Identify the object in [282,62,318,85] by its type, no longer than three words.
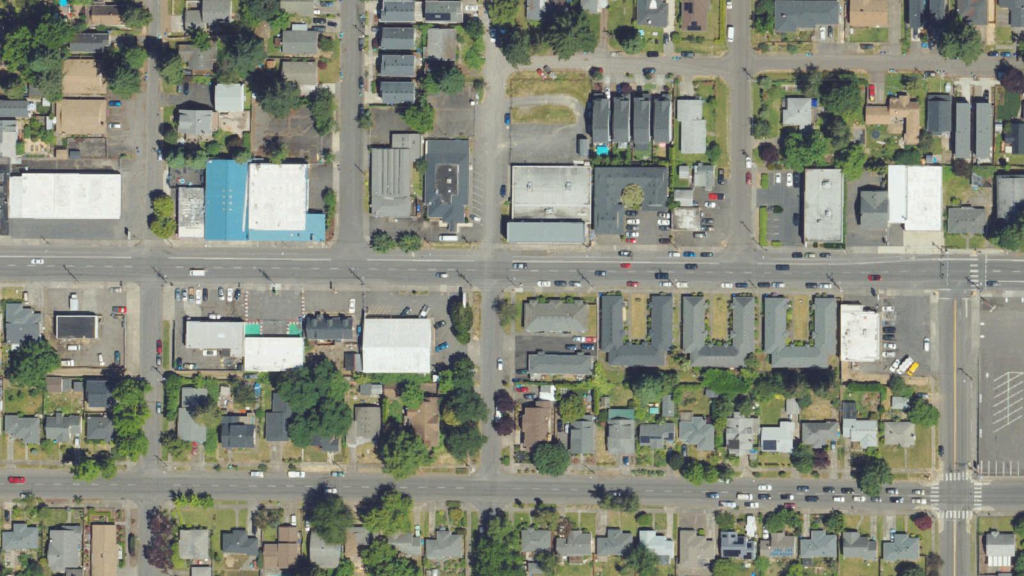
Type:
house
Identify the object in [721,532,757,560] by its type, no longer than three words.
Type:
house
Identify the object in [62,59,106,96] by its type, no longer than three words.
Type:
building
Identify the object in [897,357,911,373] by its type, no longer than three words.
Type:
vehicle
